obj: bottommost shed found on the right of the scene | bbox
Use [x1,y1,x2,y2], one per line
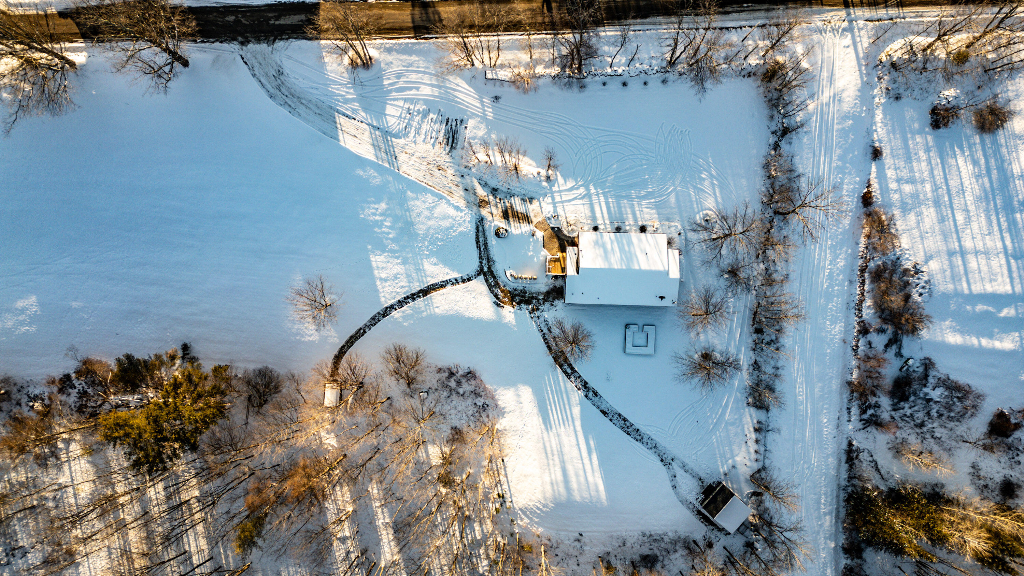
[692,476,753,535]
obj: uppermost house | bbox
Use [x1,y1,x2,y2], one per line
[564,231,681,307]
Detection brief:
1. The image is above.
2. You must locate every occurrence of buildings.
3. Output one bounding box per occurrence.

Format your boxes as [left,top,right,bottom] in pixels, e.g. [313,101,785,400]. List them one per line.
[564,231,681,307]
[324,384,340,406]
[692,476,753,535]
